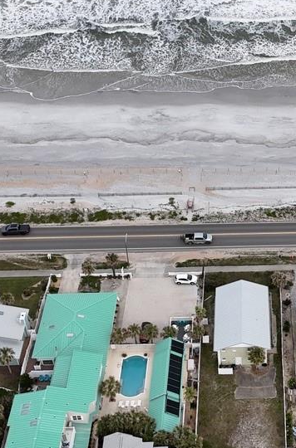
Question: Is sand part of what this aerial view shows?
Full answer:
Yes, some sand is visible.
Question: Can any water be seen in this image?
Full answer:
Yes, water shows up in the scene.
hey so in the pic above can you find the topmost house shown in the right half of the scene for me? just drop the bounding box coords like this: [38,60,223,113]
[214,281,274,362]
